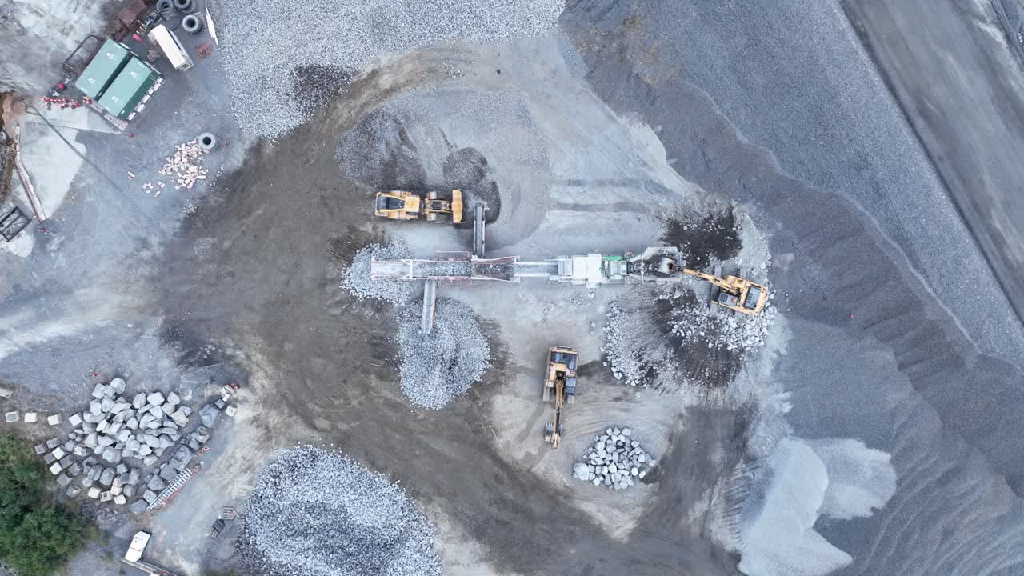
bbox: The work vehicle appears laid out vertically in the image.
[544,346,578,450]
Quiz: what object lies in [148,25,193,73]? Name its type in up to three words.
trailer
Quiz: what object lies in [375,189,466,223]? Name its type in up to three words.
work vehicle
